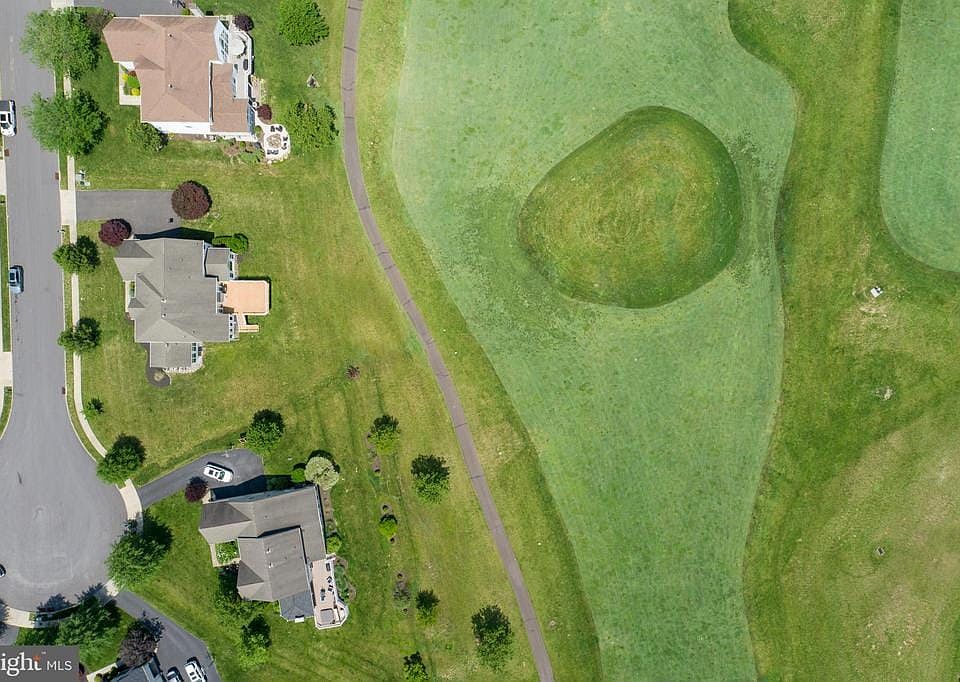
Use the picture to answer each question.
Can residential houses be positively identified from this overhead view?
Yes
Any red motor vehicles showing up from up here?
No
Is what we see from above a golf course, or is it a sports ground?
golf course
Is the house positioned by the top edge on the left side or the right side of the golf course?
to the left of it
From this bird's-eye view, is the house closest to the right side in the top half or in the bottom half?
bottom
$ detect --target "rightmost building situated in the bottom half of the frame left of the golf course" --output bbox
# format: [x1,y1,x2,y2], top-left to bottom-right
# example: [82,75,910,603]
[199,484,348,633]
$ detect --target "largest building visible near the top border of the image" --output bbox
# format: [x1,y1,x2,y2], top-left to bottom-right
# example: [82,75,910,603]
[102,15,261,136]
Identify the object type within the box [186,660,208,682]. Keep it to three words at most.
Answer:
car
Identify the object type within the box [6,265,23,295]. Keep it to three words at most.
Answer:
car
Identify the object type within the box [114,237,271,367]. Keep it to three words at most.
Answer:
house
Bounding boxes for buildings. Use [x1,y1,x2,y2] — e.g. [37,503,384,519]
[199,484,348,633]
[109,658,164,682]
[114,237,271,367]
[102,15,261,136]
